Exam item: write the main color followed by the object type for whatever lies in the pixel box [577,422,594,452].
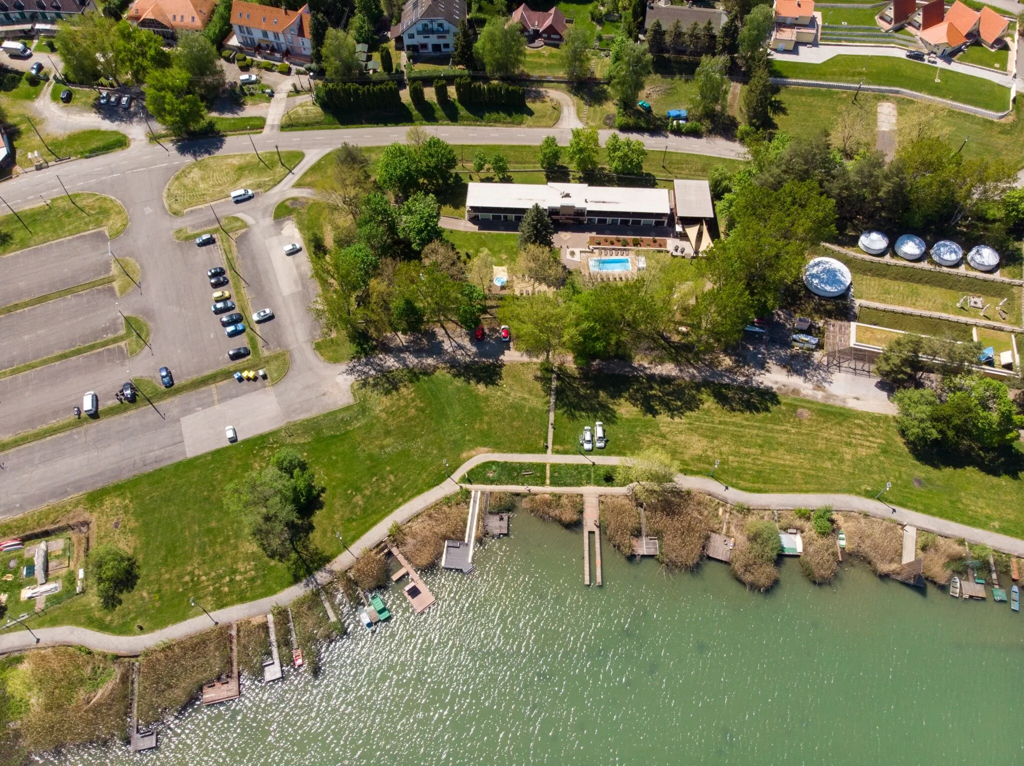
white car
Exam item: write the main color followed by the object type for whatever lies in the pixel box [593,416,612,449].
white vehicle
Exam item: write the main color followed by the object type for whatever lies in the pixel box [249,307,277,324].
white car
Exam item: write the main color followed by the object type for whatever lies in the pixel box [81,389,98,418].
white vehicle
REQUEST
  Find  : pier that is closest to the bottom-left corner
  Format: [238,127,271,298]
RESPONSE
[131,663,157,752]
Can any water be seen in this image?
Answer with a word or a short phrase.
Yes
